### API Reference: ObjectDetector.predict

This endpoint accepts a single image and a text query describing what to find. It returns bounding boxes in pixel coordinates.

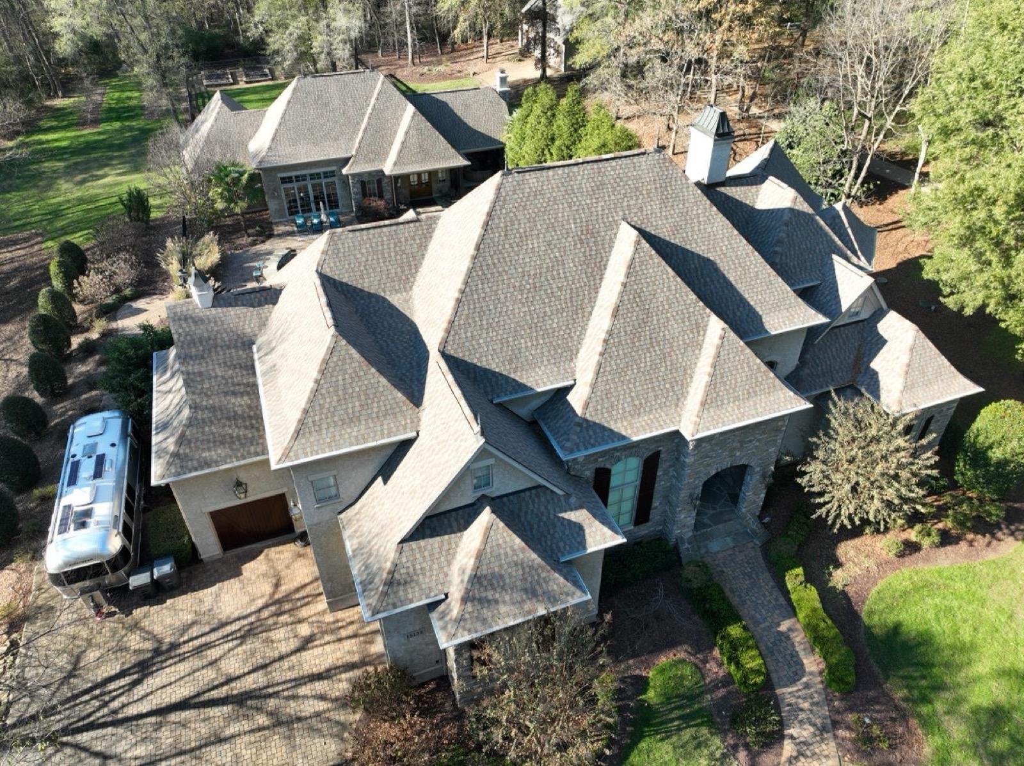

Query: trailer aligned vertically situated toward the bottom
[51,416,151,627]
